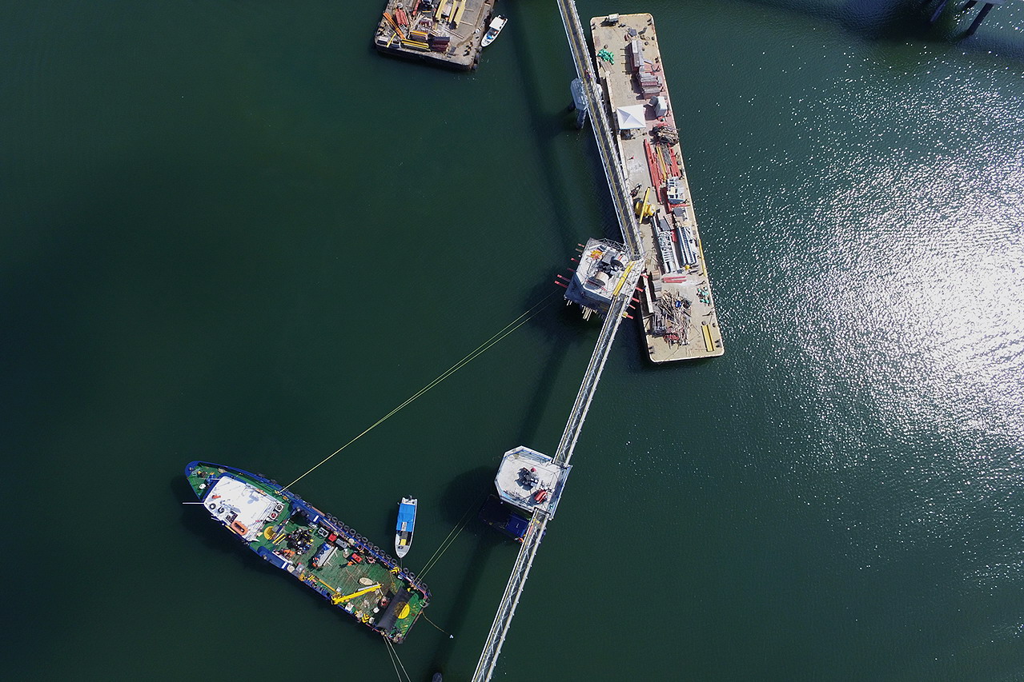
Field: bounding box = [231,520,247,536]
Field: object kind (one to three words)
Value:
boat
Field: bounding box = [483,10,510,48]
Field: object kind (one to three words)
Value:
boat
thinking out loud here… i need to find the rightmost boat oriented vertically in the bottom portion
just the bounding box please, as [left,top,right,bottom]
[395,495,414,558]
